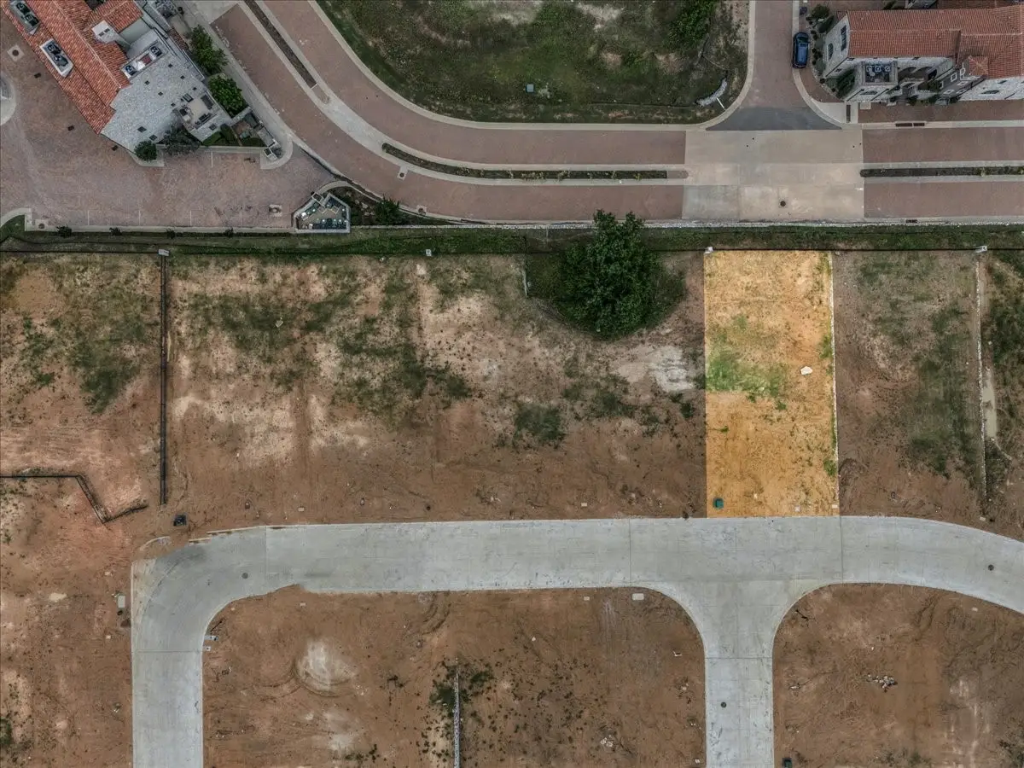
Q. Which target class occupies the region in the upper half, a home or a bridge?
home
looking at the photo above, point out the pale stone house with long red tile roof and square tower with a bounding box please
[826,4,1024,100]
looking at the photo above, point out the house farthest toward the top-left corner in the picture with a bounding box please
[0,0,240,159]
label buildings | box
[826,4,1024,100]
[0,0,240,159]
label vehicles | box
[793,29,812,66]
